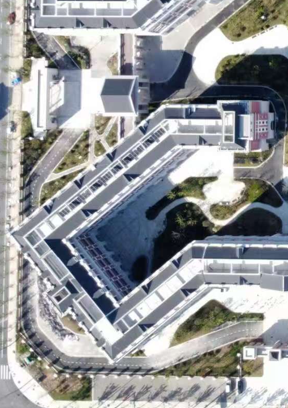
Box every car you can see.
[7,11,14,24]
[236,380,243,393]
[225,380,231,394]
[5,121,11,134]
